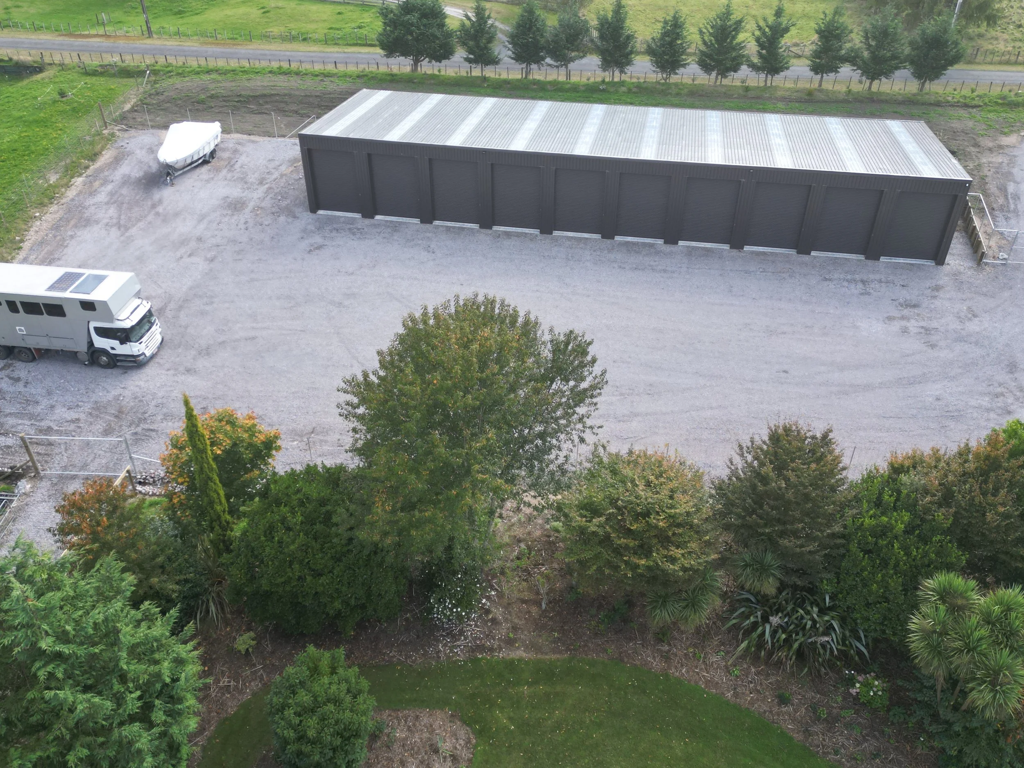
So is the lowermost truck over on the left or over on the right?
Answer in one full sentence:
The lowermost truck appears in the left half of the scene.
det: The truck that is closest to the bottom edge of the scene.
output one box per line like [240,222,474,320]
[0,263,167,368]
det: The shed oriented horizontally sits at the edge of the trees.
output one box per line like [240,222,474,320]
[296,87,974,266]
